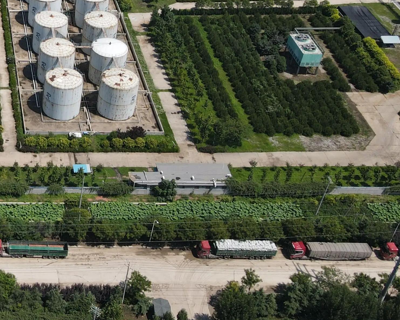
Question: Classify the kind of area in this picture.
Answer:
industrial area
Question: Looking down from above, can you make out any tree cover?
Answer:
Yes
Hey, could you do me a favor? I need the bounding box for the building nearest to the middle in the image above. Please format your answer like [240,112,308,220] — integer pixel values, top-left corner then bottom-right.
[125,163,237,190]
